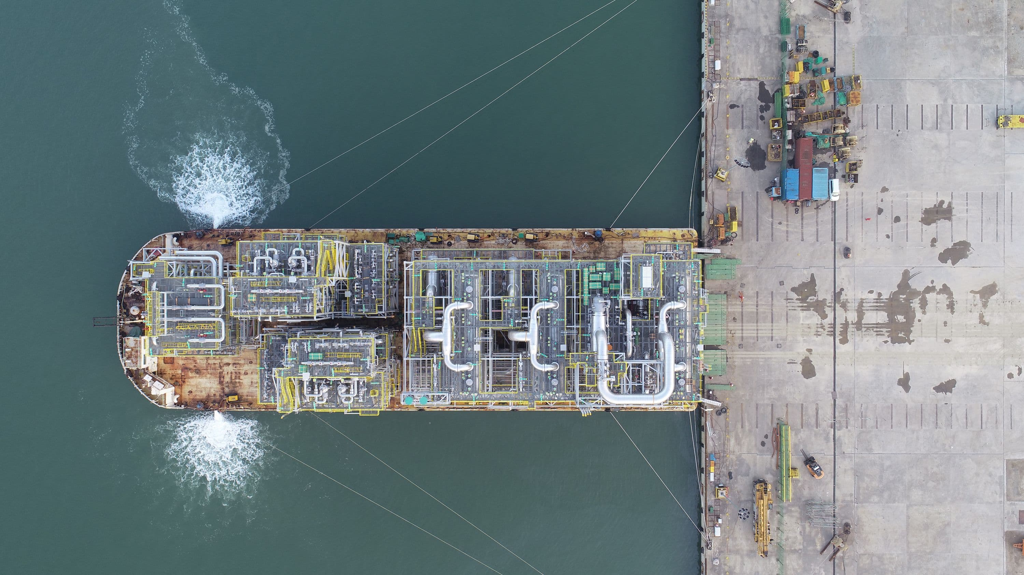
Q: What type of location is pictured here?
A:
port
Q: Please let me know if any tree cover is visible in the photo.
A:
No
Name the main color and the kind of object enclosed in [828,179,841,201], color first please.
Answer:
white vehicle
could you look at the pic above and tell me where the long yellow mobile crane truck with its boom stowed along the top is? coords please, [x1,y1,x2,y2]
[753,477,774,558]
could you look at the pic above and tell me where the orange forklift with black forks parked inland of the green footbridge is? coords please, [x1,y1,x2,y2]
[800,449,825,479]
